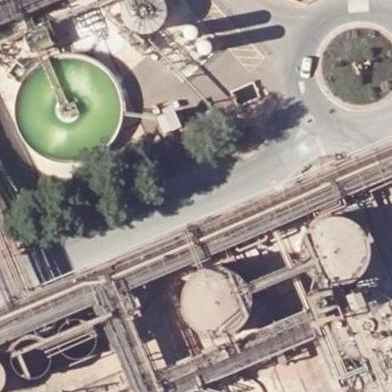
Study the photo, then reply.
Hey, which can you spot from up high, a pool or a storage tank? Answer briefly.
storage tank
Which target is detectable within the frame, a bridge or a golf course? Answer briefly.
bridge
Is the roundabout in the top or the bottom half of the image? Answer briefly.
top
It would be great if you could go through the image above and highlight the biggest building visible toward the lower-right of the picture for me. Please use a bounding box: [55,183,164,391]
[344,291,368,314]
